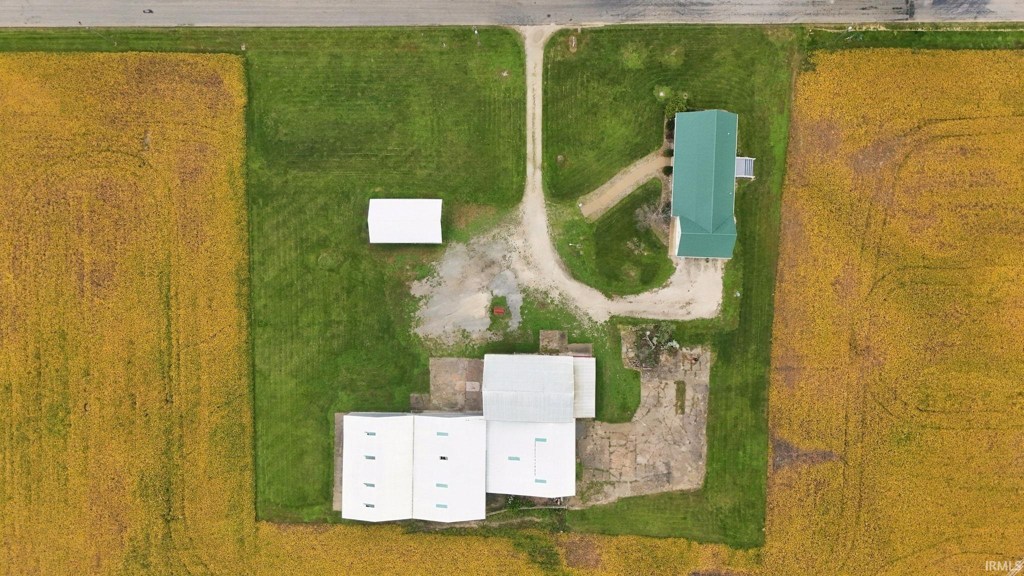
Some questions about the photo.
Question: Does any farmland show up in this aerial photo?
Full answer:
Yes, farmland can be seen from above here.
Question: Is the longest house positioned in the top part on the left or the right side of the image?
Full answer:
You can find the longest house positioned in the top part on the right side of the picture.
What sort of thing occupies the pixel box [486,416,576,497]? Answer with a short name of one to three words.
barn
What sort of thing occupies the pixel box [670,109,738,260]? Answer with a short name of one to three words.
house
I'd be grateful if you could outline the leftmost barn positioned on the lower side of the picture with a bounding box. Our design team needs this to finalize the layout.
[342,412,486,522]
